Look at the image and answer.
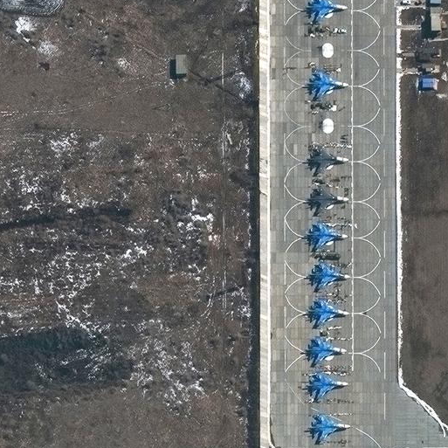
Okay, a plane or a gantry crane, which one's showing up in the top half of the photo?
plane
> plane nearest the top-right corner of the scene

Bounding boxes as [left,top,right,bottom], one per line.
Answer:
[305,0,347,21]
